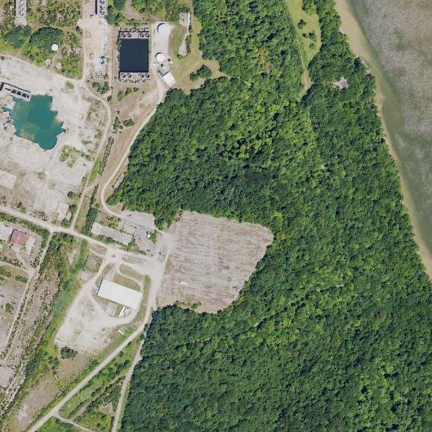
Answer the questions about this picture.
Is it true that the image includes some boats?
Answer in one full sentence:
No, there's no boat here.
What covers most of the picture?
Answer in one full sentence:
The scene is dominated by trees.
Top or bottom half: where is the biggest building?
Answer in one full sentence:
It is in the bottom half that the biggest building appears.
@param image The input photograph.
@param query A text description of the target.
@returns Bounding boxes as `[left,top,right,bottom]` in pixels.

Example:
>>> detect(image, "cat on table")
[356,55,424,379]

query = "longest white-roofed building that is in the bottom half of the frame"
[97,279,142,309]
